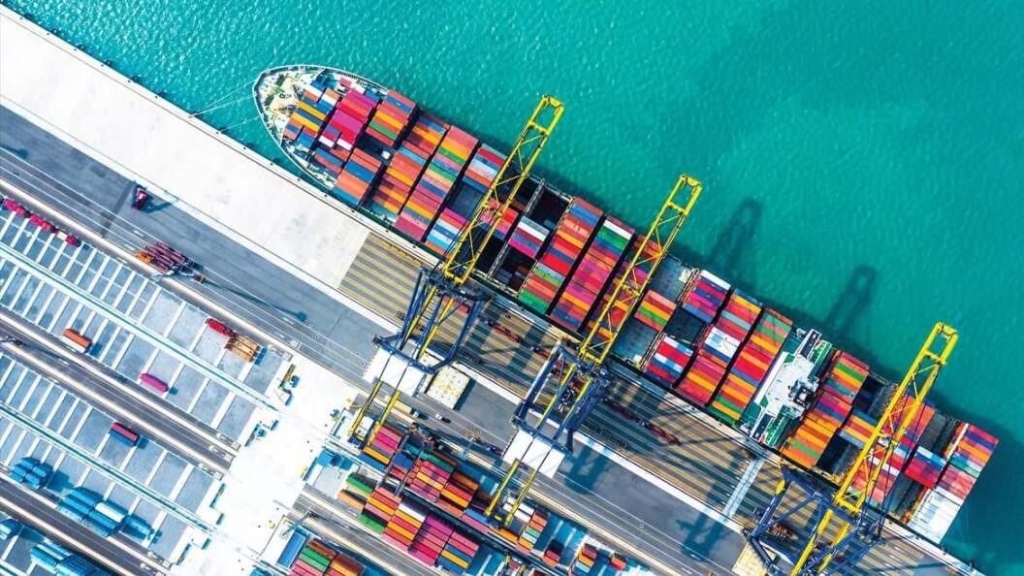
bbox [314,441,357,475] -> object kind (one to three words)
shed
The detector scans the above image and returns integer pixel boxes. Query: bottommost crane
[485,540,524,576]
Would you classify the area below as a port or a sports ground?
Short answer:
port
